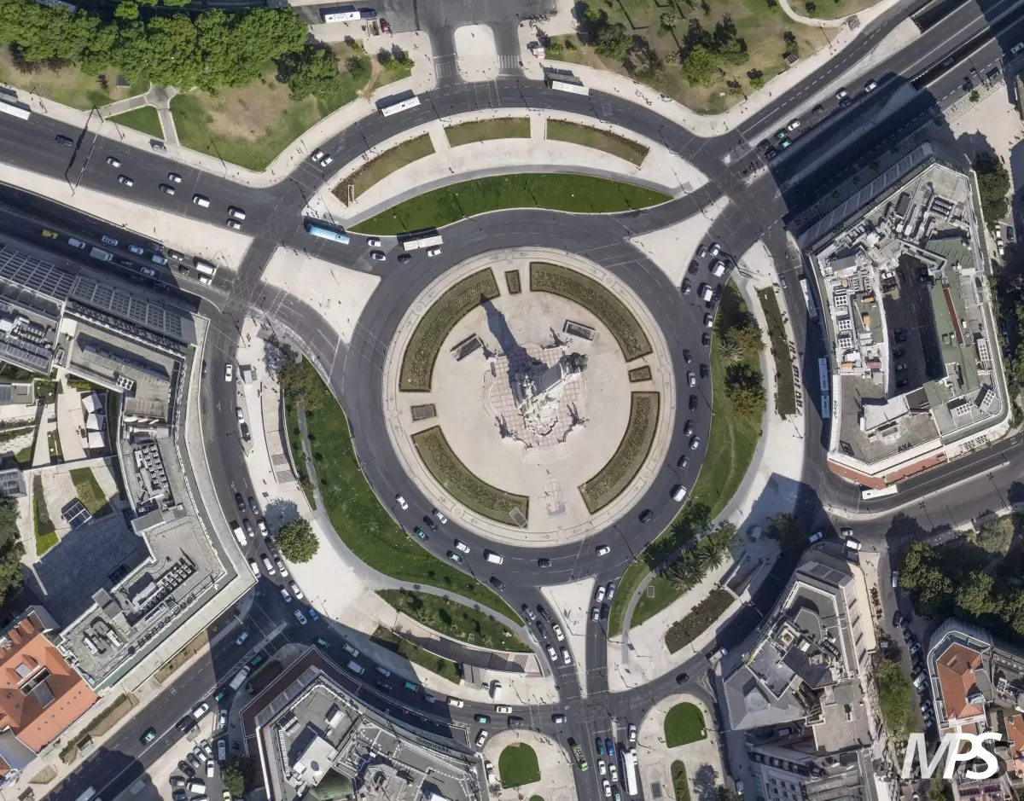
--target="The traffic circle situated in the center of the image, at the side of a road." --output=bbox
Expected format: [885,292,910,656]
[338,210,711,588]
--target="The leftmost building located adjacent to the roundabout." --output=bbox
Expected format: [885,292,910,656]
[54,281,256,693]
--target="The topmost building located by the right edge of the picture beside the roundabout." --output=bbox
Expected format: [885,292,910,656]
[799,140,1016,488]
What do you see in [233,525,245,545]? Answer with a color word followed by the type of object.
white vehicle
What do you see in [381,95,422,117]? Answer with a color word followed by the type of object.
white bus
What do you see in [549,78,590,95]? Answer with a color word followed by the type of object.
white vehicle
